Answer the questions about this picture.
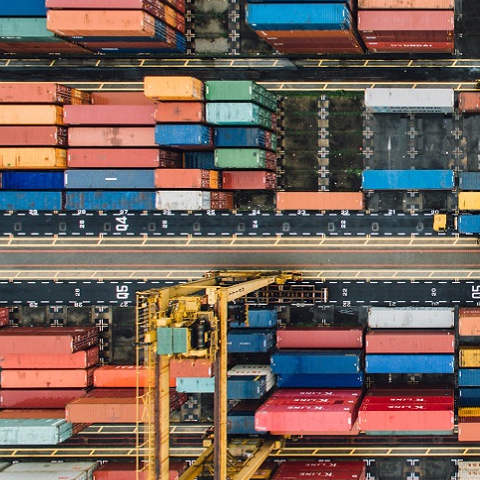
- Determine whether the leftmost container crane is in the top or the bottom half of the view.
bottom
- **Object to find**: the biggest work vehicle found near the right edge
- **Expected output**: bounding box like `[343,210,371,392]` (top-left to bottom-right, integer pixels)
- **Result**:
[431,212,468,234]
